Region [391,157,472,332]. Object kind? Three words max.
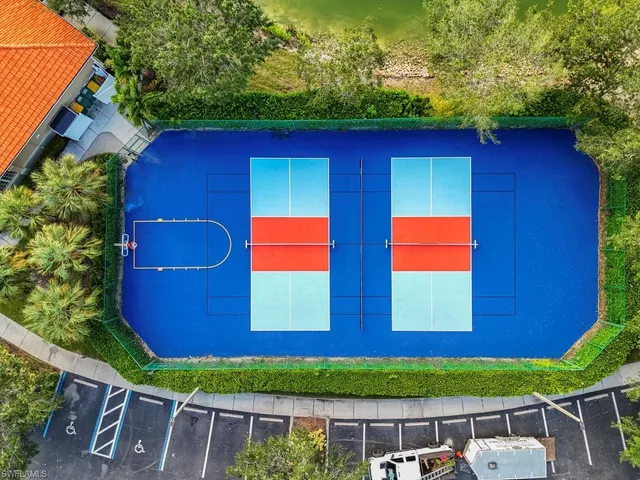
sports court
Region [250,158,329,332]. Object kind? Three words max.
sports court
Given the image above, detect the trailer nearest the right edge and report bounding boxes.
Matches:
[452,433,554,480]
